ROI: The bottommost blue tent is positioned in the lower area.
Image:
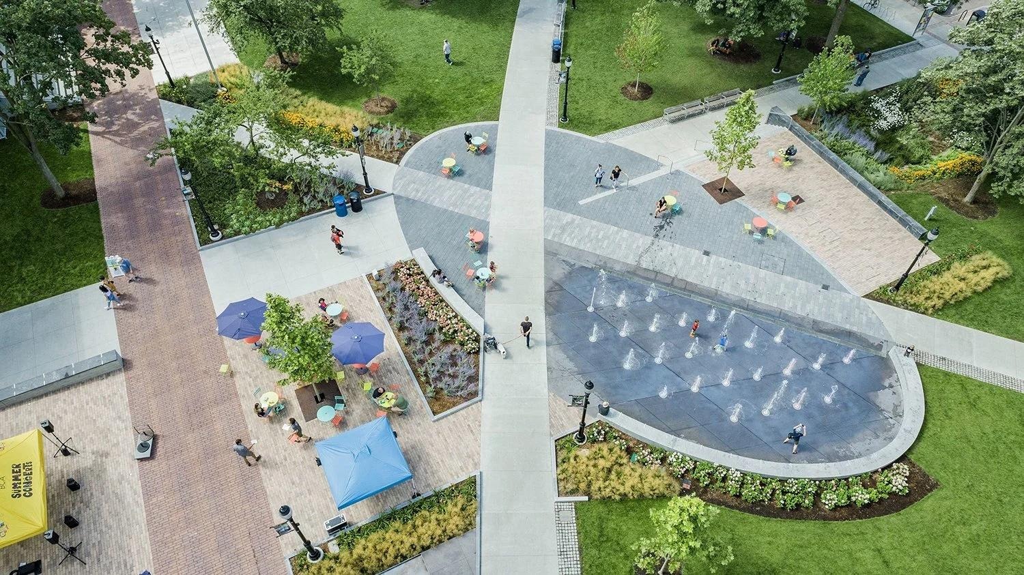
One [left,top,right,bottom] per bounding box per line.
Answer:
[315,417,423,535]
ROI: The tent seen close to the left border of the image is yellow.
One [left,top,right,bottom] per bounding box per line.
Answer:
[0,430,82,559]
